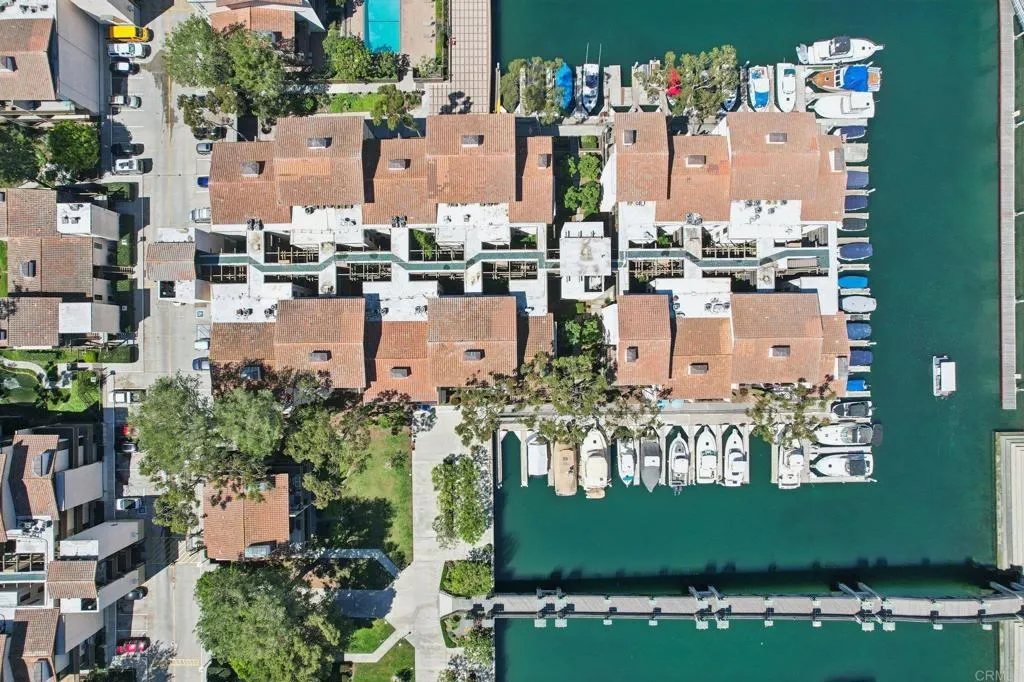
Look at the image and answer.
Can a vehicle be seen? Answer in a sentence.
Yes, looking at the shot, I can spot a vehicle.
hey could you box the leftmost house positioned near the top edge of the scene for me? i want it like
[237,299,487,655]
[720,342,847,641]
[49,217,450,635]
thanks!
[0,0,98,124]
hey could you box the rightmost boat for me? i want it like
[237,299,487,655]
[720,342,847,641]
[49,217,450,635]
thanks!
[931,356,964,398]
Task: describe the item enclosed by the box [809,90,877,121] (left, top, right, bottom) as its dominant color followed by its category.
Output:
white boat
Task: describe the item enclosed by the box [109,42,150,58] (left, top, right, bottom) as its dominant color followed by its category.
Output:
white vehicle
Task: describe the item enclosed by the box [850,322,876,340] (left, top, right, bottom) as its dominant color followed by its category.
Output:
blue boat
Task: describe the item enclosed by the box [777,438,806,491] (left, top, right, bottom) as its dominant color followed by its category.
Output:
white boat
